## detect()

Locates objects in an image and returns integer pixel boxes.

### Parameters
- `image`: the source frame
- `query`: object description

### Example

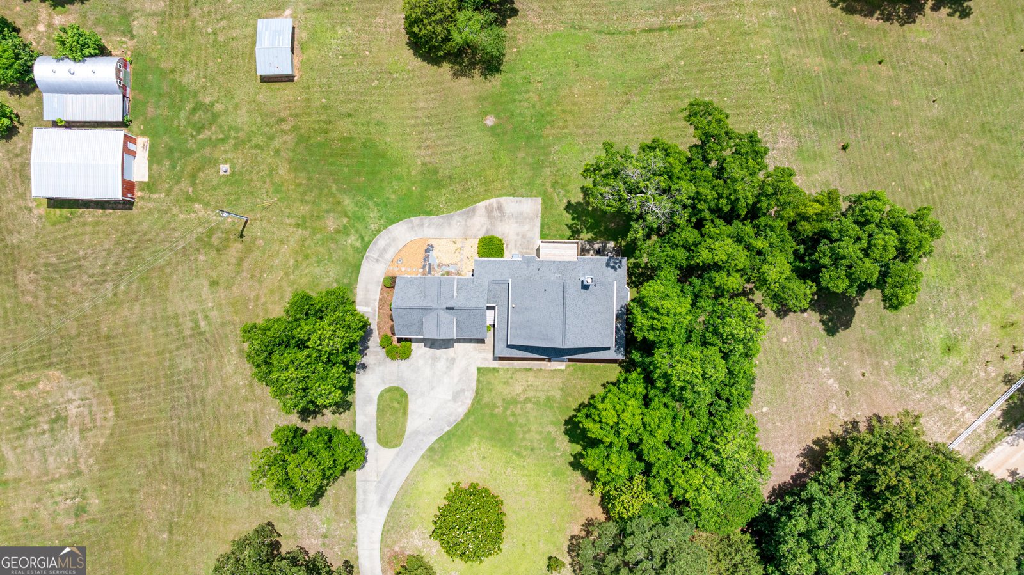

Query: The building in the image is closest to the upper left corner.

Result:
[34,55,132,123]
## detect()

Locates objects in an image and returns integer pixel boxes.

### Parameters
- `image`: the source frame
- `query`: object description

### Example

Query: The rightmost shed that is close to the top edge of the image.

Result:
[256,19,294,77]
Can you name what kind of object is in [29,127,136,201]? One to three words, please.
barn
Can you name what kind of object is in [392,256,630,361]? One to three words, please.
house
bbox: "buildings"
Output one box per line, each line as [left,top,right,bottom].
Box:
[392,256,630,361]
[34,55,132,123]
[256,19,294,77]
[29,127,136,201]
